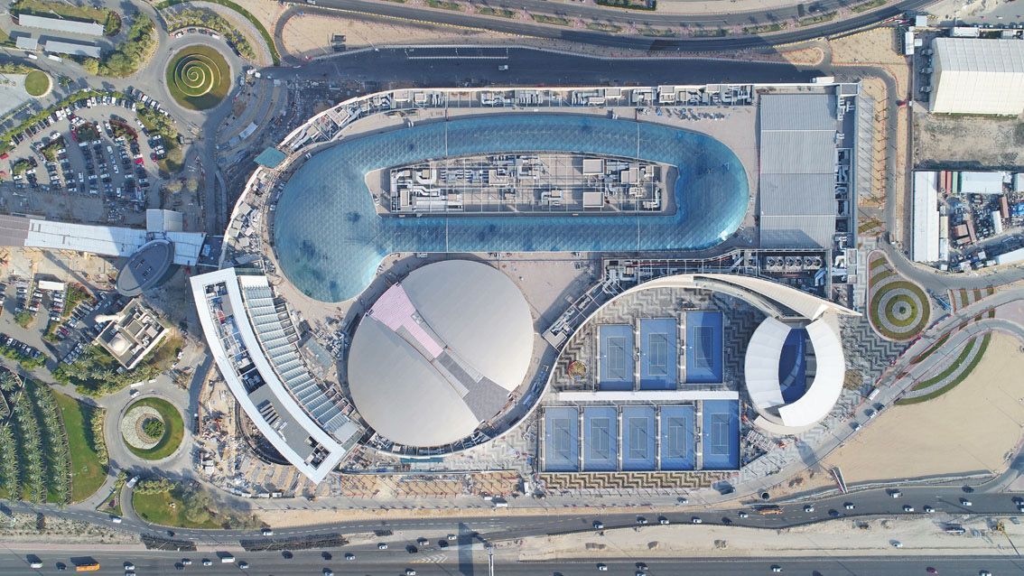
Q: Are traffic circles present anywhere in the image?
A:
Yes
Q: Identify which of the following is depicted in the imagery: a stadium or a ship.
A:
stadium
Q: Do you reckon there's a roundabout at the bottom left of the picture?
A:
Yes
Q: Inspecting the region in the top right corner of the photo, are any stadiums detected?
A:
No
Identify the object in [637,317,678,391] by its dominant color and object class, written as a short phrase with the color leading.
blue tennis court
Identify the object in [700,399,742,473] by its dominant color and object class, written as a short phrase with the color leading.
blue tennis court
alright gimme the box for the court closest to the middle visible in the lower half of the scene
[596,324,634,391]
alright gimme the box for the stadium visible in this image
[740,317,847,435]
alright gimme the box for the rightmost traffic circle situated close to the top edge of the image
[145,25,251,130]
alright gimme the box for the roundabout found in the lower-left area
[105,381,198,475]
